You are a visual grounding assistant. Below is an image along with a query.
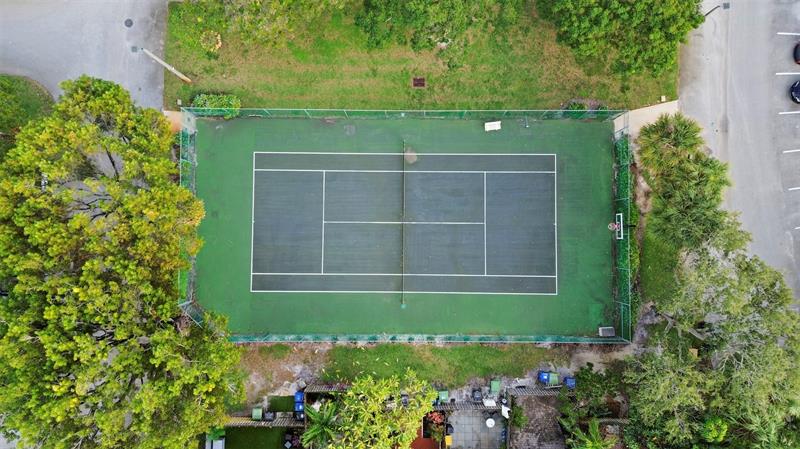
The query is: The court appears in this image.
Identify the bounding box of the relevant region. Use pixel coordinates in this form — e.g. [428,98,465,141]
[193,116,616,337]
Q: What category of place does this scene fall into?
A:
sports ground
